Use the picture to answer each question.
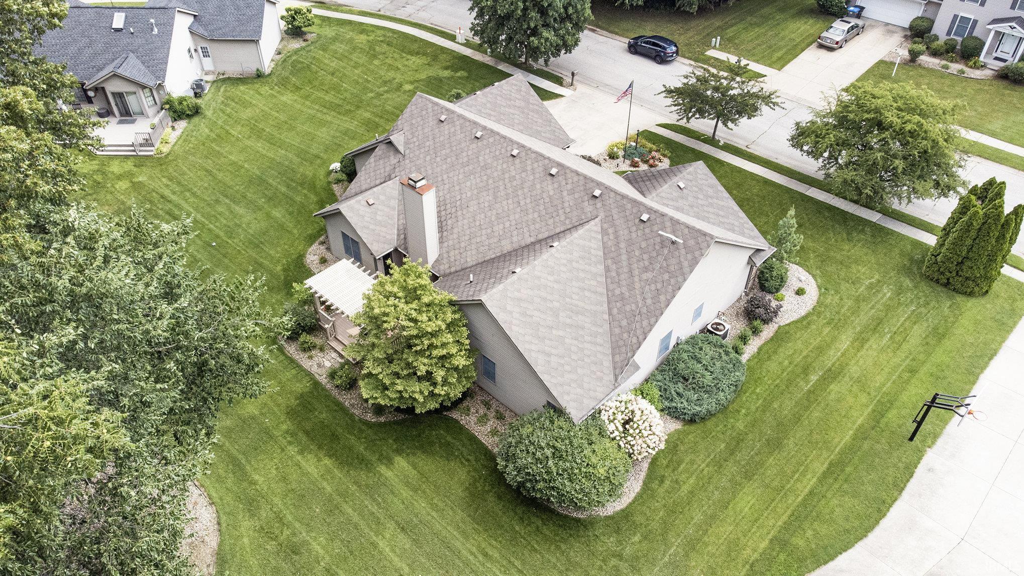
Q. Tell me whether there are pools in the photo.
No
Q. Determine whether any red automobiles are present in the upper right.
No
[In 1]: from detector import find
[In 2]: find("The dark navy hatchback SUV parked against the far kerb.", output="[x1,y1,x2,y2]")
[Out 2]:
[626,32,682,65]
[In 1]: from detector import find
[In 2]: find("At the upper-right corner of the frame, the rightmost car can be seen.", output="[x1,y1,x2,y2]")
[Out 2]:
[817,18,865,47]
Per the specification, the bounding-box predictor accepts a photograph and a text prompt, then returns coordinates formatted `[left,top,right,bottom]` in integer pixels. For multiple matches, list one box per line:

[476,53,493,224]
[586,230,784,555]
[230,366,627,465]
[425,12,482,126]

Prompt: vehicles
[817,18,865,47]
[626,32,682,65]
